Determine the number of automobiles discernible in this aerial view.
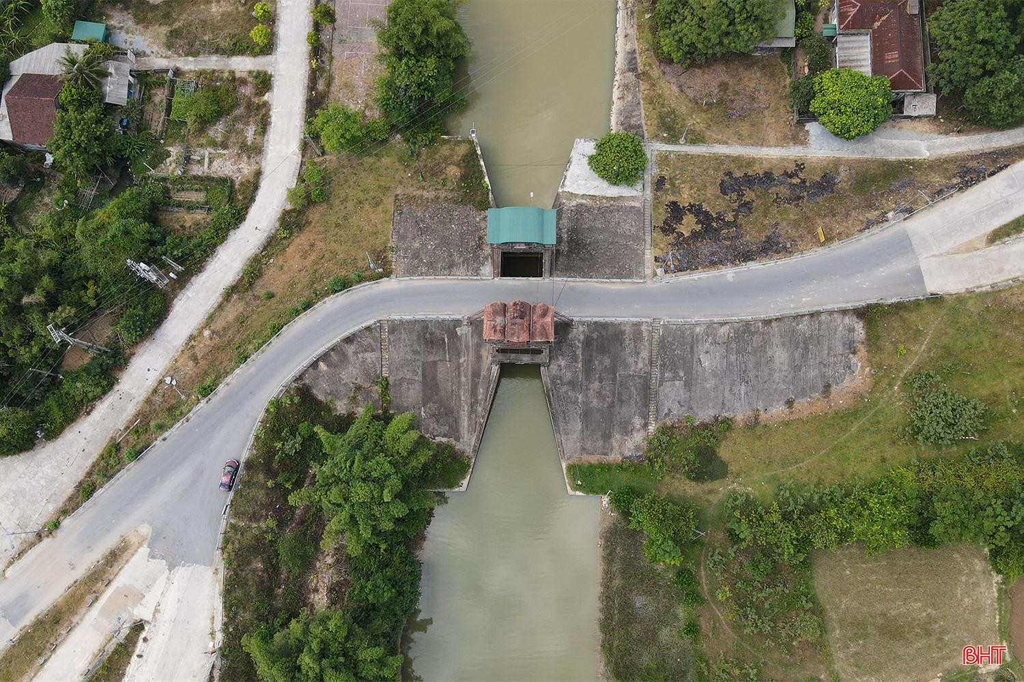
1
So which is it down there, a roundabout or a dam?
dam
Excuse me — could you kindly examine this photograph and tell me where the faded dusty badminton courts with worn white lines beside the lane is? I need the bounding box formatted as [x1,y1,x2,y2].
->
[329,0,389,104]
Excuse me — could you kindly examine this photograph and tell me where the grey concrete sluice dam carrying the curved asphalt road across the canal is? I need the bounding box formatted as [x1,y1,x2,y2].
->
[280,128,864,496]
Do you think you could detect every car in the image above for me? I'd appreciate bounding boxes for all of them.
[216,457,237,493]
